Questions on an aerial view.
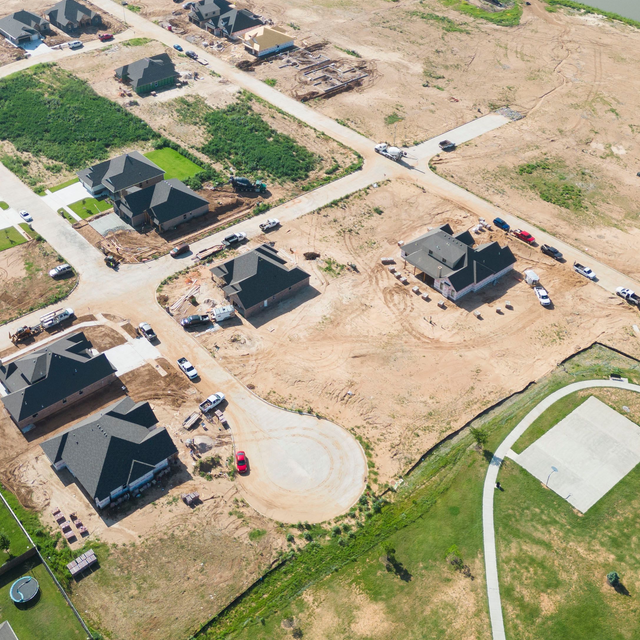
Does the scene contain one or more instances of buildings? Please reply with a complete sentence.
Yes, I can see a building in this picture.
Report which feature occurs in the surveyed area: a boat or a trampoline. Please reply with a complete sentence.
The one in the frame is a trampoline.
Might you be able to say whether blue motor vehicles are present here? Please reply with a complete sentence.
Yes, there is a blue motor vehicle in the image.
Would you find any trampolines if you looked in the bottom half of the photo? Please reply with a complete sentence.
Yes, the scene does show a trampoline in the bottom half of the photo.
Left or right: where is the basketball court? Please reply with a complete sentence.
The basketball court appears in the right half of the scene.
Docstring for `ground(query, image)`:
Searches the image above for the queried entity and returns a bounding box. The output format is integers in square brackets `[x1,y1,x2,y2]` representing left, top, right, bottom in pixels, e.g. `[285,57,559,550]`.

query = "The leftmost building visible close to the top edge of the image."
[0,10,53,46]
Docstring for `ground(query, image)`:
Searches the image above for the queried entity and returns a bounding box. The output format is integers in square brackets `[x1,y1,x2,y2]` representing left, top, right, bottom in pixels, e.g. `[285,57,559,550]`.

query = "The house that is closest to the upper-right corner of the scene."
[400,216,522,300]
